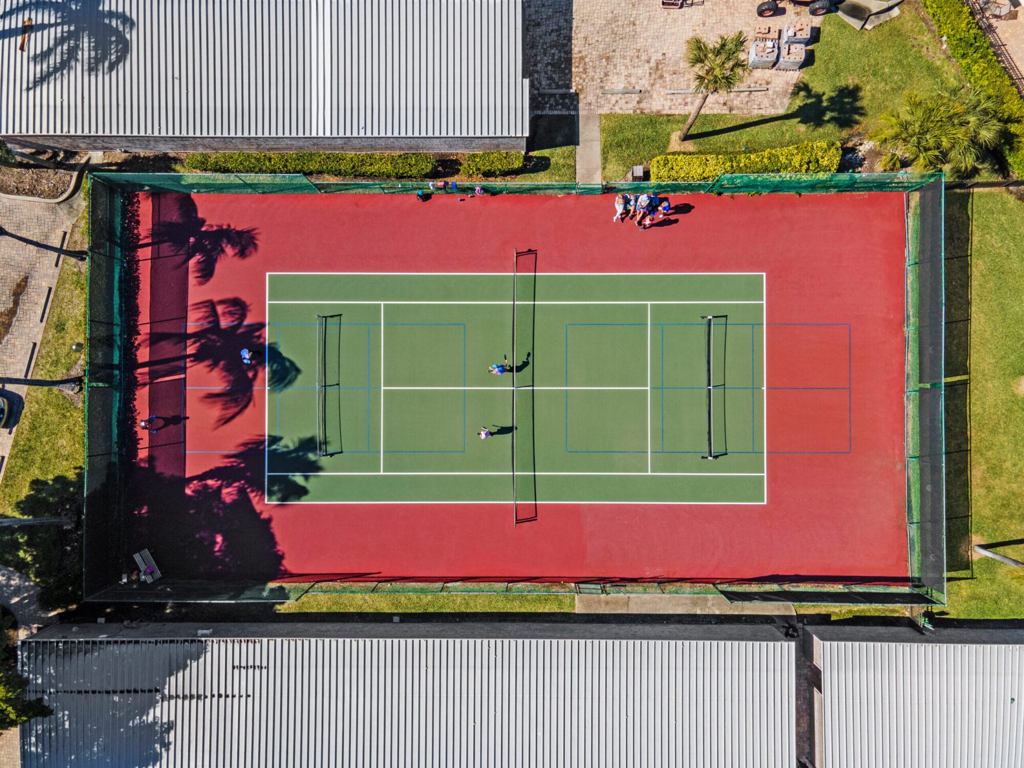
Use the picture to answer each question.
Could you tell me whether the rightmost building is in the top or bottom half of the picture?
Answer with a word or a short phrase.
bottom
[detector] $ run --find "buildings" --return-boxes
[16,627,798,768]
[0,0,529,156]
[801,630,1024,768]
